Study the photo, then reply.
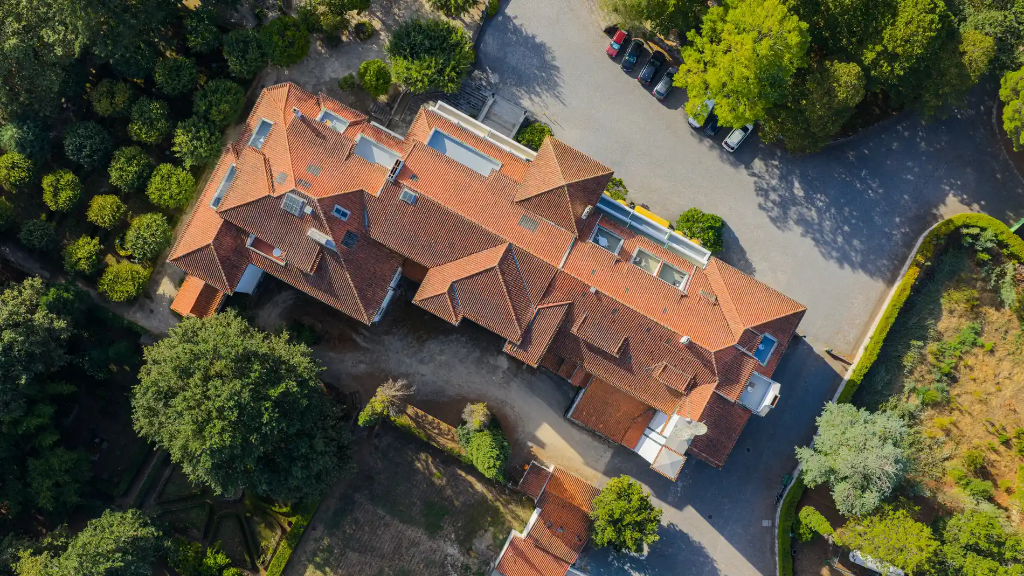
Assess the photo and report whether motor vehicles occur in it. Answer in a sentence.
Yes, there's a motor vehicle here.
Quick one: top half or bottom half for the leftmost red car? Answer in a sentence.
You can find the leftmost red car in the top half.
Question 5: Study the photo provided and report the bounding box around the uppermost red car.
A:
[603,25,630,61]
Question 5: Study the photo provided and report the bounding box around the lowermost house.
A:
[484,454,601,576]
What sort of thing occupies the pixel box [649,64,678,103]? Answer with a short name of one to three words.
car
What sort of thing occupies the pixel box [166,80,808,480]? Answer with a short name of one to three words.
house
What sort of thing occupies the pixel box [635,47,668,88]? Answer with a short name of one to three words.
car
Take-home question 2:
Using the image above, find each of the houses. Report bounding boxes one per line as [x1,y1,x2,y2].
[166,80,808,480]
[484,454,601,576]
